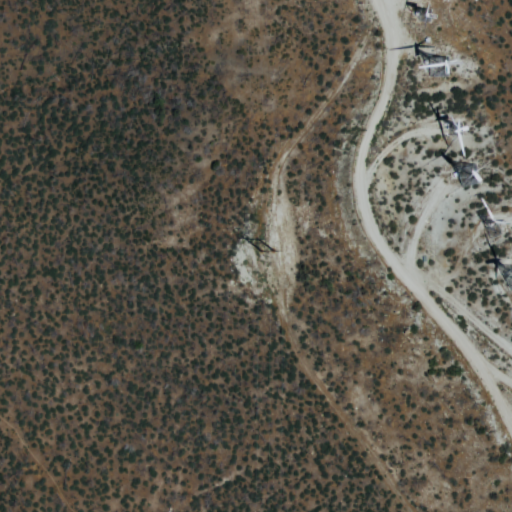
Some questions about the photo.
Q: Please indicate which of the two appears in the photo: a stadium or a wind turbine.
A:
wind turbine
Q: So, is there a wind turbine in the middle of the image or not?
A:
No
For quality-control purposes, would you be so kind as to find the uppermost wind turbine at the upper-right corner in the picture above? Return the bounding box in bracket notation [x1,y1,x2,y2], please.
[414,0,437,24]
